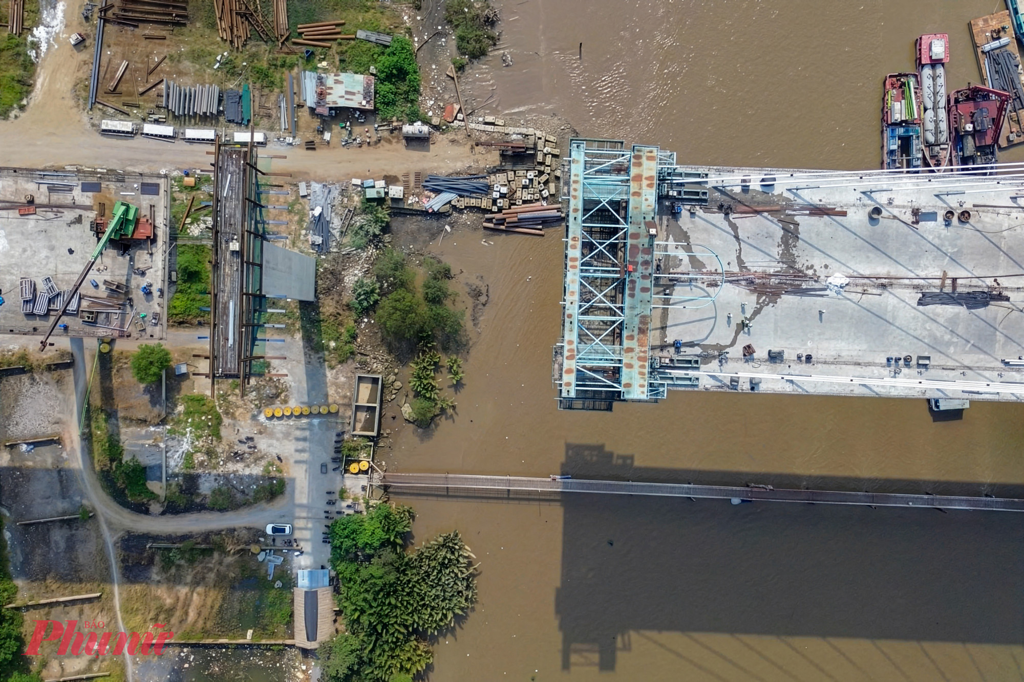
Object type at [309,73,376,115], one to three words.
shed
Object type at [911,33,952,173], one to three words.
ship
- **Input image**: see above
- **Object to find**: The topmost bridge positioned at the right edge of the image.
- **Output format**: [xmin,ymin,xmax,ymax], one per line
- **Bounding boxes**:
[650,161,1024,402]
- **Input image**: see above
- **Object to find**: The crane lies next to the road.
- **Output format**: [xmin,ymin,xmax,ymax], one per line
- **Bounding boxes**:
[37,201,154,353]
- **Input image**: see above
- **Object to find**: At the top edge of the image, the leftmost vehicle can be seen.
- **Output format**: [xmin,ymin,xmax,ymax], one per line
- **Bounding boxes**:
[71,32,88,48]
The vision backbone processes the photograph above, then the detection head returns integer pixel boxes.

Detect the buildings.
[293,588,334,647]
[309,73,376,115]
